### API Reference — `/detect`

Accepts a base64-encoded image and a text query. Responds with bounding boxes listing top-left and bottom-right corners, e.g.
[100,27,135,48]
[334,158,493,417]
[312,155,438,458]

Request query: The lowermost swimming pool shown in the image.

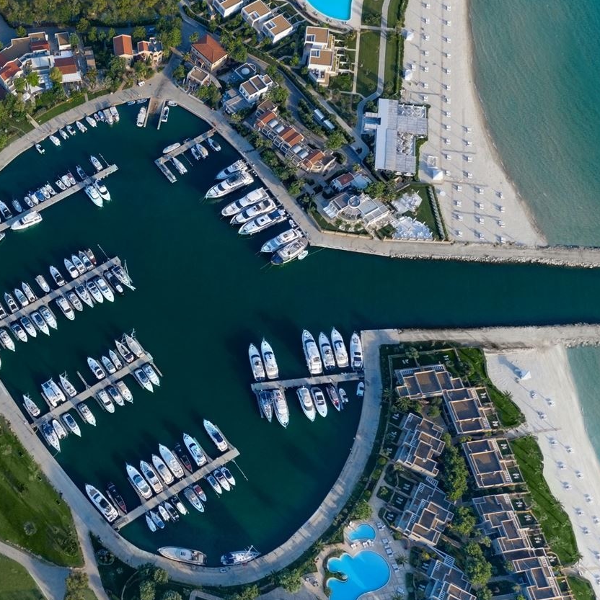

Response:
[325,549,392,600]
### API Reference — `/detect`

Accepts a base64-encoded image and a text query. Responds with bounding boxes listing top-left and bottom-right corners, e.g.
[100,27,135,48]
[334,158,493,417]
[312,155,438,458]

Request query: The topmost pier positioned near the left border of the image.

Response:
[0,153,117,233]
